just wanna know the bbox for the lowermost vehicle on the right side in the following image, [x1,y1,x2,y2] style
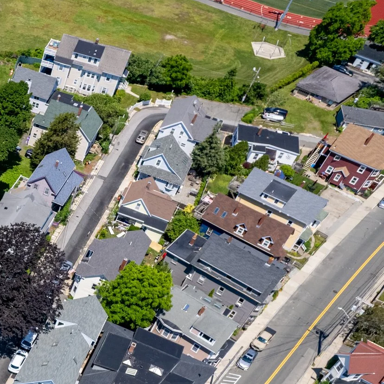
[236,348,258,372]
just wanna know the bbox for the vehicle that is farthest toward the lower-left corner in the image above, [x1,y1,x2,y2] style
[8,349,29,375]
